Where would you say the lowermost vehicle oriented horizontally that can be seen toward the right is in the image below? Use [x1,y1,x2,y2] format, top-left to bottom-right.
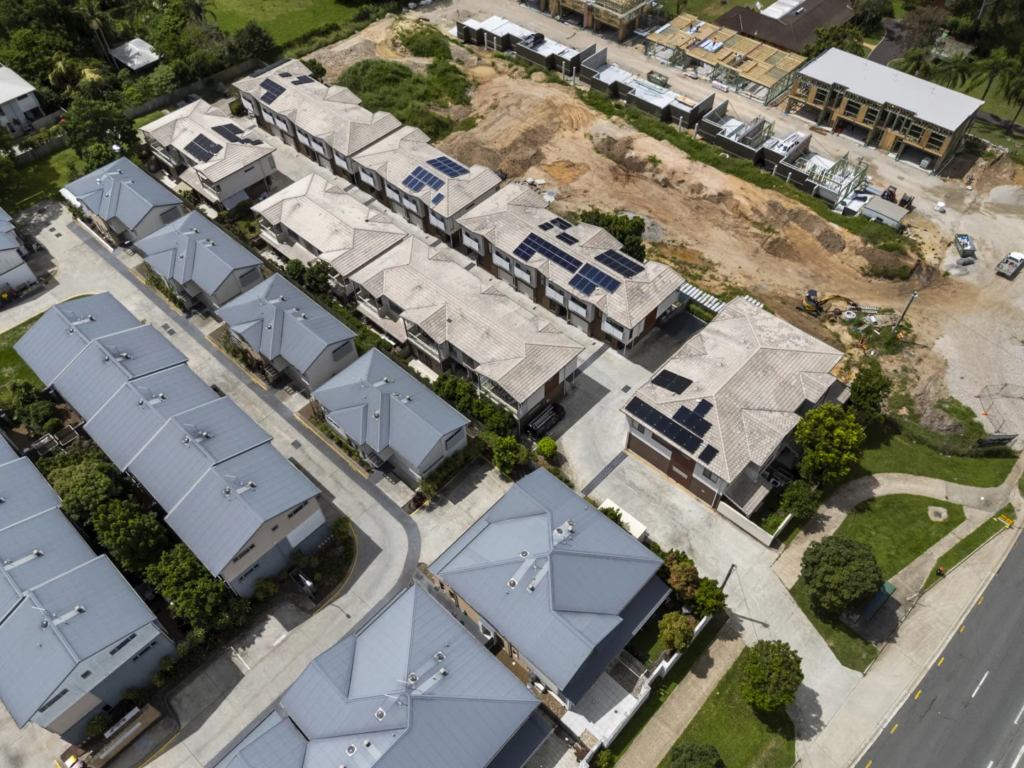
[800,290,862,317]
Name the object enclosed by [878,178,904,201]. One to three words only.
work vehicle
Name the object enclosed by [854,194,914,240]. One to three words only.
shed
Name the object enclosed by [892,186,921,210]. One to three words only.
work vehicle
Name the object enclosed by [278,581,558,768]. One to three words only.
house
